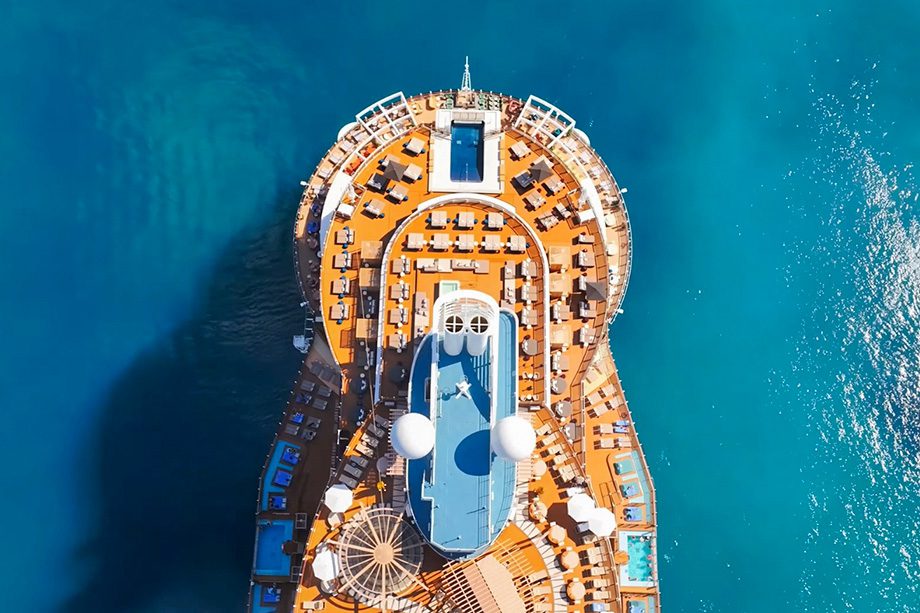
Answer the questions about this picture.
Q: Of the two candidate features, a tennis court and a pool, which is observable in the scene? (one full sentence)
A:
Visible in the photo is a pool.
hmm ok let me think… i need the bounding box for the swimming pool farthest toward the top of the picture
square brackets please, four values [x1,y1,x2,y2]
[427,109,506,194]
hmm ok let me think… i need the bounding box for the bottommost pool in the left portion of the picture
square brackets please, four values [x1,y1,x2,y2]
[252,585,288,613]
